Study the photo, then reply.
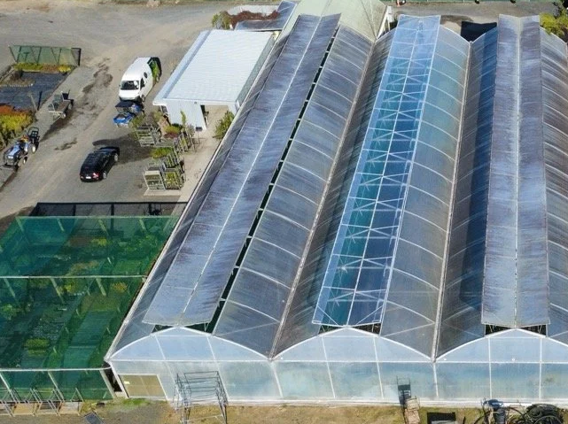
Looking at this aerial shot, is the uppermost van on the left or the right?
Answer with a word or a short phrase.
left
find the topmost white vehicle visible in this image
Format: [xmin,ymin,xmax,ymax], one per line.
[118,53,159,101]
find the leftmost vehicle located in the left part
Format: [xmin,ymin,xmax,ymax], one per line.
[0,128,34,173]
